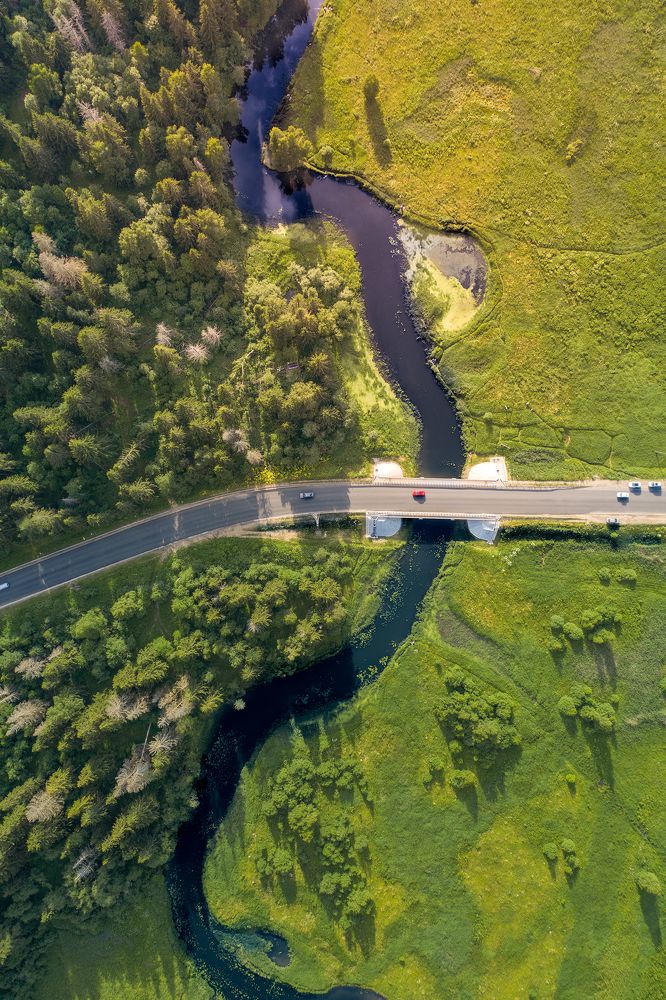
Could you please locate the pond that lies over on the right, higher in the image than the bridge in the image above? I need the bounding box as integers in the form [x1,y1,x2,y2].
[400,223,484,329]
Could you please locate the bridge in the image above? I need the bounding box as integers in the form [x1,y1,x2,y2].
[365,456,510,541]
